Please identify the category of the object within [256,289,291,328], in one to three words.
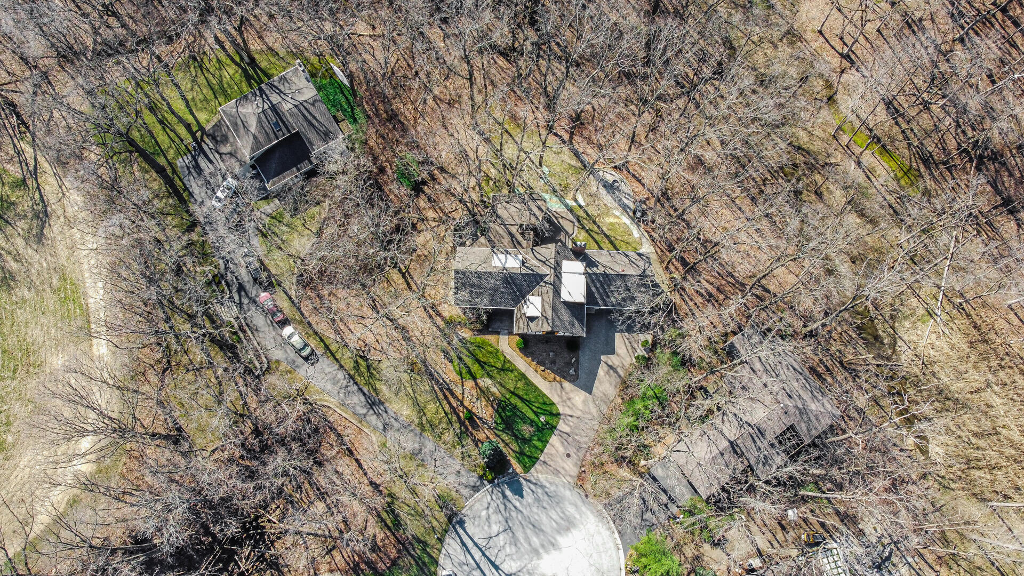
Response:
car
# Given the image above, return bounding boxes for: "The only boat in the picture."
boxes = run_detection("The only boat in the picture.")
[331,63,351,89]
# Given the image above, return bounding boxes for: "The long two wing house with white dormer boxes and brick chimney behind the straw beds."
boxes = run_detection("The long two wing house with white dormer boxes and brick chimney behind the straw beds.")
[454,239,662,337]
